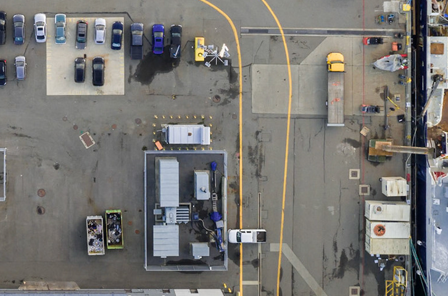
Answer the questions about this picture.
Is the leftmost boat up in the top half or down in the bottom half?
top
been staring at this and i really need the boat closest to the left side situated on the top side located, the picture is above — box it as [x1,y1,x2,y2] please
[373,52,409,72]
